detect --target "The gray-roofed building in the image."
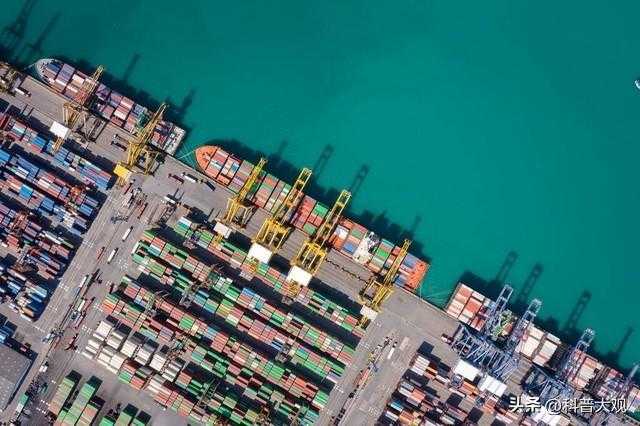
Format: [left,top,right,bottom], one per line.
[0,337,37,422]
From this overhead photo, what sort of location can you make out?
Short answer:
port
